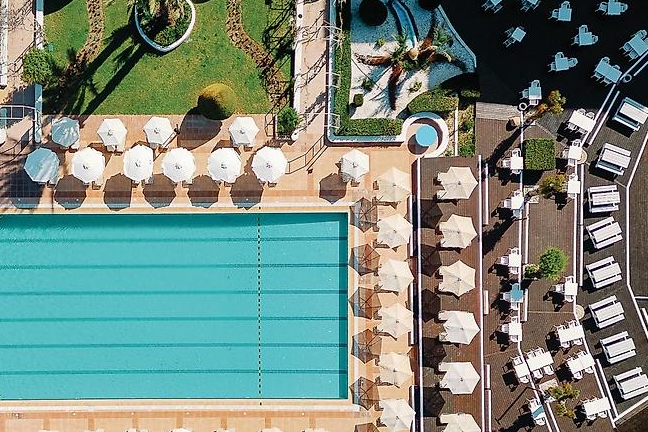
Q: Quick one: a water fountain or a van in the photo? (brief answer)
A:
water fountain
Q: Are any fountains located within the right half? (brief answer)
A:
Yes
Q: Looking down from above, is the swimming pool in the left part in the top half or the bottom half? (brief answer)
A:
bottom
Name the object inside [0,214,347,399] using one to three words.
swimming pool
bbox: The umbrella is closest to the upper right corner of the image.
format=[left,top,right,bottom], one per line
[438,167,477,202]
